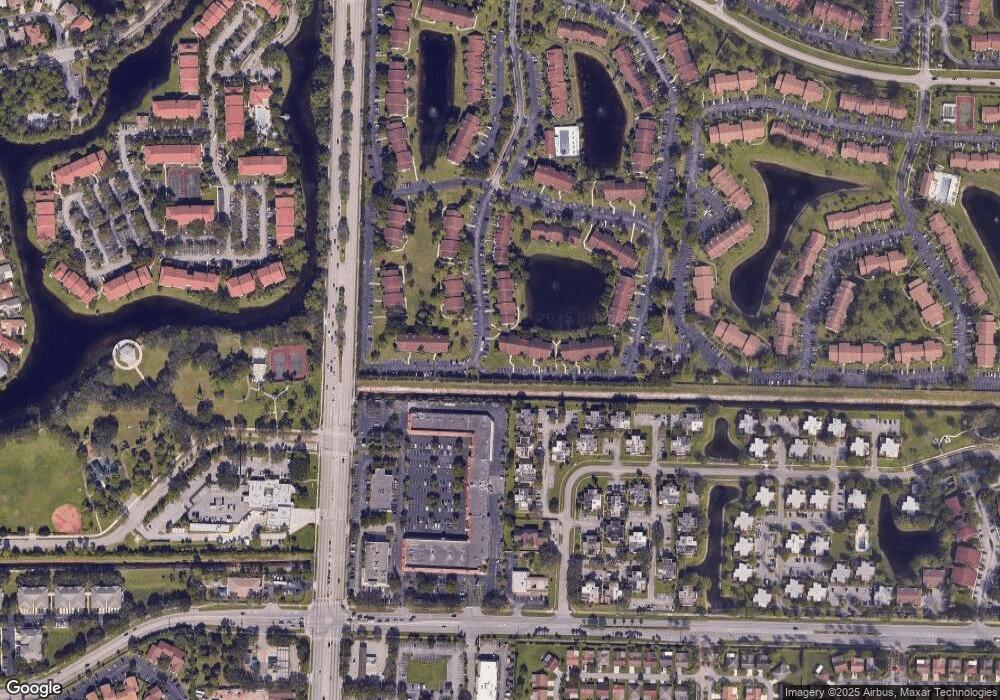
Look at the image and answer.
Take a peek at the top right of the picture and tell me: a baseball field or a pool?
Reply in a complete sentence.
What appears at the top right of the picture is a pool.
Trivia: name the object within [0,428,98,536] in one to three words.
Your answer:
sports field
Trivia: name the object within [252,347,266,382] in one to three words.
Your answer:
building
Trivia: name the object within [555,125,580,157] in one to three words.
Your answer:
swimming pool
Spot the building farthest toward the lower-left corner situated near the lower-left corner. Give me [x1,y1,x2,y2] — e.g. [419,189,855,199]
[17,629,43,661]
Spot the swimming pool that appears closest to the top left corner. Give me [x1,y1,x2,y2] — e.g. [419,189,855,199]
[251,104,270,136]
